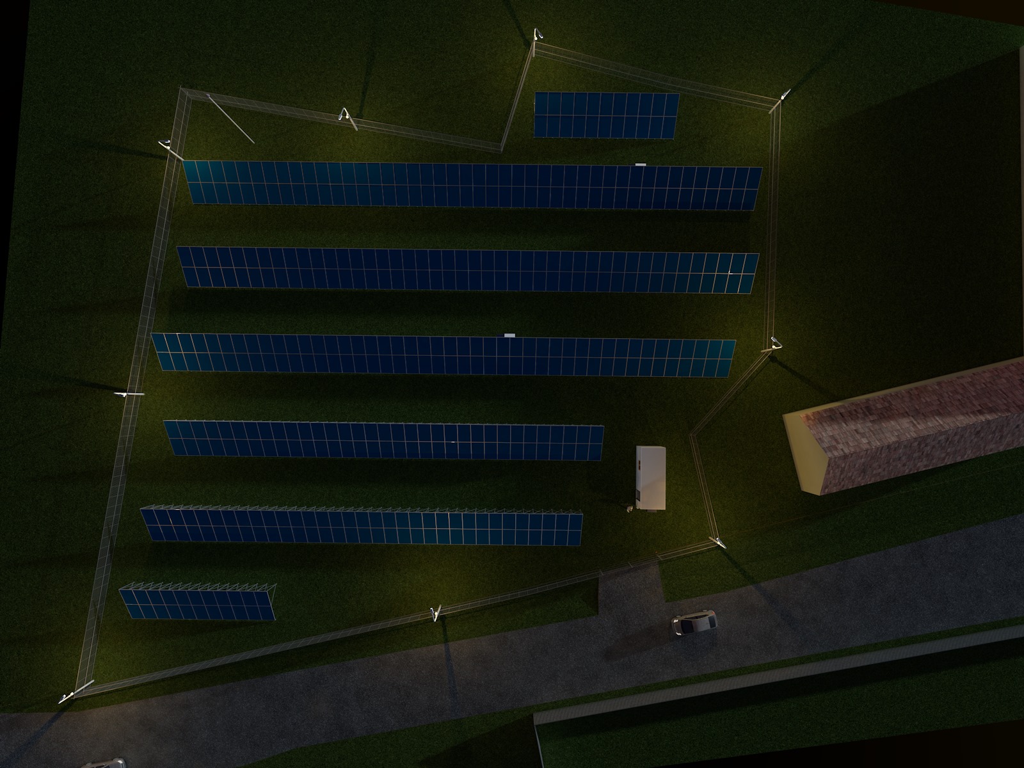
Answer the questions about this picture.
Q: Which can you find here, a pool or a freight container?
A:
freight container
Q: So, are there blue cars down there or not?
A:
No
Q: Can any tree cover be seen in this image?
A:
No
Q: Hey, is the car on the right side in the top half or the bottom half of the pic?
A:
bottom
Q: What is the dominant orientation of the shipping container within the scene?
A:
from top to bottom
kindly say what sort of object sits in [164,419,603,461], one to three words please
solar array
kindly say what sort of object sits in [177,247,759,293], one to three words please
solar array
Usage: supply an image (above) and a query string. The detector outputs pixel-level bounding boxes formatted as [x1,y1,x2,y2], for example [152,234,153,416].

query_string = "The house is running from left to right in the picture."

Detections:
[782,357,1024,497]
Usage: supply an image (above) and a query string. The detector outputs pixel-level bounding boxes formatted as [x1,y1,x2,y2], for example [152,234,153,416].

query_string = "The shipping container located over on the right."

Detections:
[636,446,666,513]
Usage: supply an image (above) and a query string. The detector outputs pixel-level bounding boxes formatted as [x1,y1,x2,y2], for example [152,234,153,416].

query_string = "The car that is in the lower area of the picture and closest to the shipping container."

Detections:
[669,609,718,638]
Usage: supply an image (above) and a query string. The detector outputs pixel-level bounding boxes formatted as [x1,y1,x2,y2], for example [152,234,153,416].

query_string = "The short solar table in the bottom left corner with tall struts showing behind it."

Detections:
[120,582,277,622]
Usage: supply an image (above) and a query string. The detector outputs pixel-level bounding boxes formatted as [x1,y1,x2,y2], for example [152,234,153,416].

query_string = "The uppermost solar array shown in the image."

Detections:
[534,92,679,138]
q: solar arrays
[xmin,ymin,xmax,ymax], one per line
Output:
[534,92,679,138]
[151,333,736,378]
[177,247,759,293]
[164,419,603,461]
[141,505,582,546]
[184,161,761,210]
[120,582,277,622]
